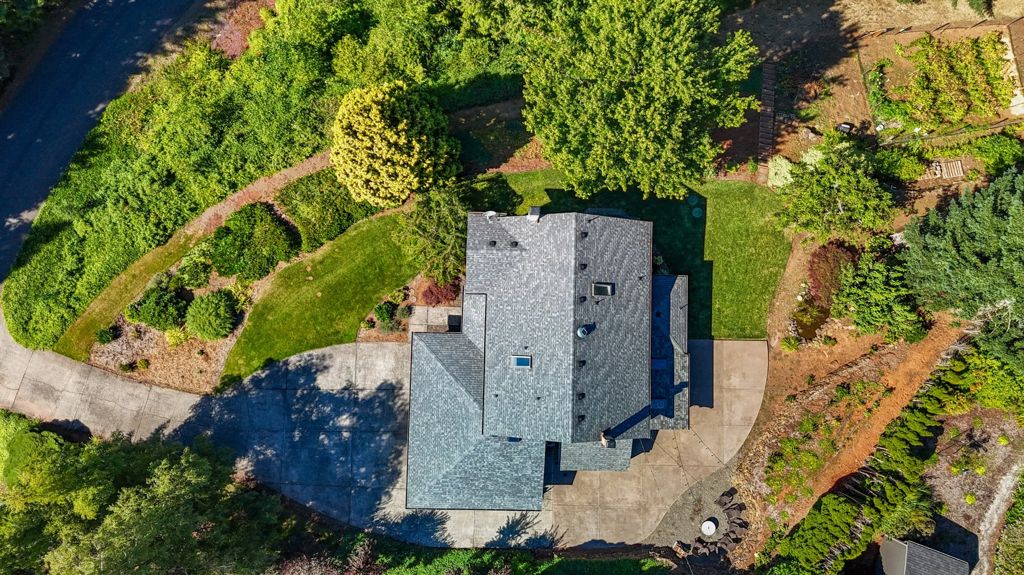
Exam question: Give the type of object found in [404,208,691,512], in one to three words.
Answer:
house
